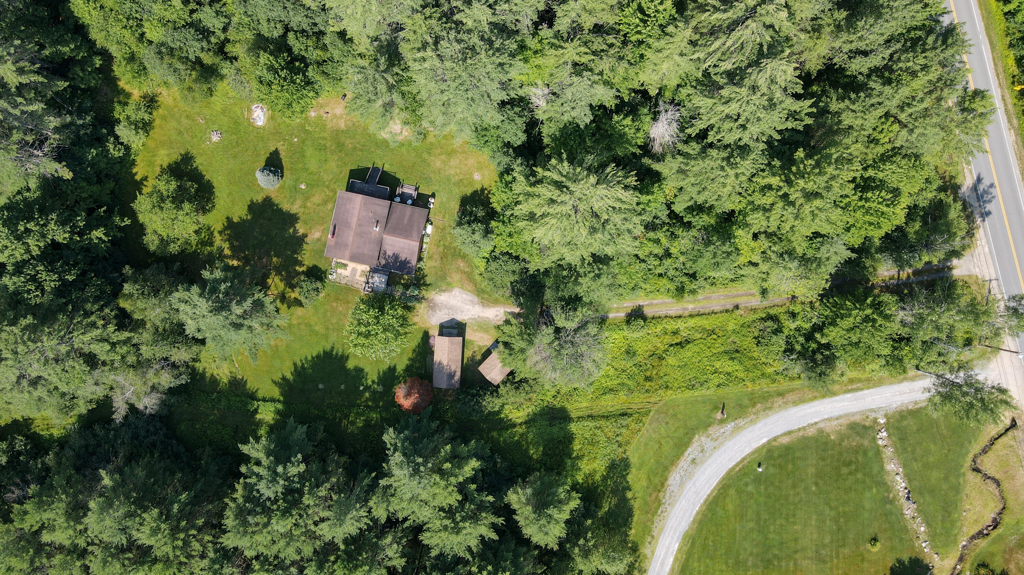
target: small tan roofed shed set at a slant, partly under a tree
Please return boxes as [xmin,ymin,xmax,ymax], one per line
[478,347,512,386]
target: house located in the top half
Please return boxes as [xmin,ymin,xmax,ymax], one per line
[325,166,429,293]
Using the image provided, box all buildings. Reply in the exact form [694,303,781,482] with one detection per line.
[432,324,463,389]
[478,347,512,386]
[325,166,429,293]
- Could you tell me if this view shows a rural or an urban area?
rural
